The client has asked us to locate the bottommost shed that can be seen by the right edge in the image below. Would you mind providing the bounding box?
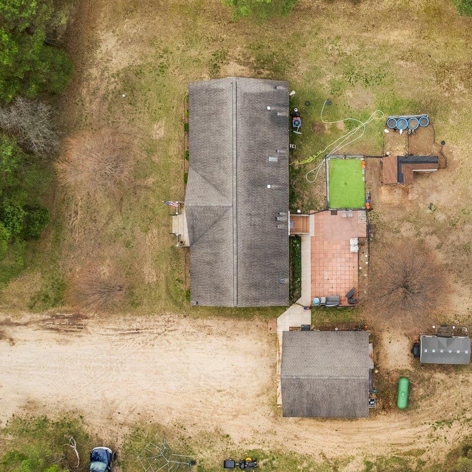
[419,333,471,363]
